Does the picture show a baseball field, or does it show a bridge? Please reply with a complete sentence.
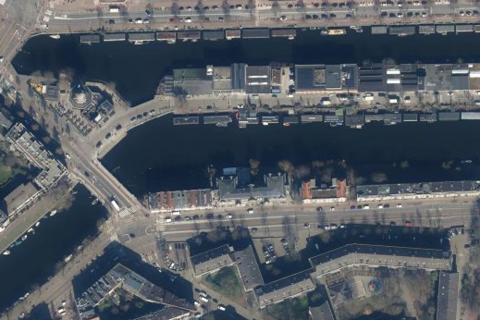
Of the two, only a bridge appears.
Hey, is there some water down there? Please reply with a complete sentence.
Yes, there's water in this view.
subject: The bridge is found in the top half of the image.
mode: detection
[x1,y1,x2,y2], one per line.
[0,29,31,64]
